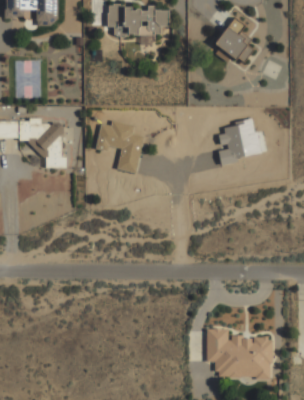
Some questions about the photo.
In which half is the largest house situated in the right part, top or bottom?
bottom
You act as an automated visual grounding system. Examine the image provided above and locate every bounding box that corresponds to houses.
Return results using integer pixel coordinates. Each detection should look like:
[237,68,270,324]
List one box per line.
[206,329,274,385]
[218,118,266,166]
[94,120,142,174]
[216,18,252,62]
[0,118,68,168]
[107,4,168,45]
[4,0,58,30]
